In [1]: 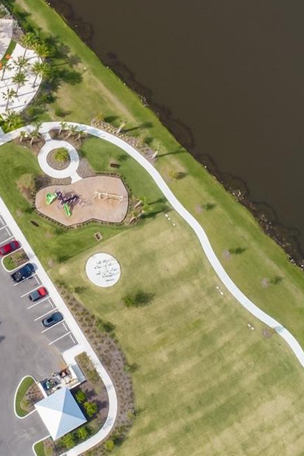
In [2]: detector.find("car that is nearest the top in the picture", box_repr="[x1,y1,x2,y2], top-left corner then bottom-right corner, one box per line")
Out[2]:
[0,240,20,255]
